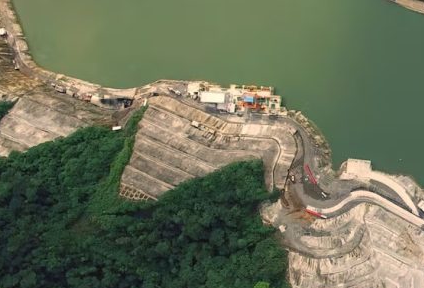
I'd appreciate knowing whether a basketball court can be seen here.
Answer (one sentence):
No, the frame has no basketball court in it.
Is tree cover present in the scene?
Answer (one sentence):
Yes, some tree cover is visible.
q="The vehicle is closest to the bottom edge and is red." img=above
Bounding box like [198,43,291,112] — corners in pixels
[305,206,326,219]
